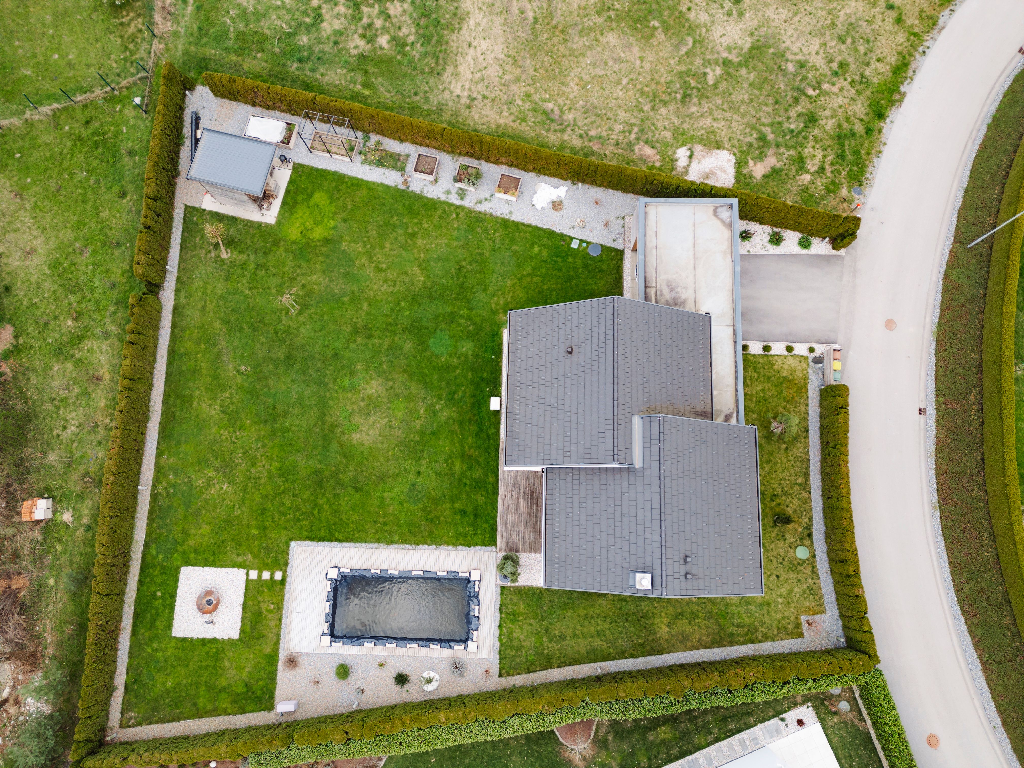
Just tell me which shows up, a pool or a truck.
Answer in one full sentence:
The one in the frame is a pool.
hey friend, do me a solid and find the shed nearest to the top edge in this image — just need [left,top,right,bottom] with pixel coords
[185,126,278,212]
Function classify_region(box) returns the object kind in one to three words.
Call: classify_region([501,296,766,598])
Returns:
house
